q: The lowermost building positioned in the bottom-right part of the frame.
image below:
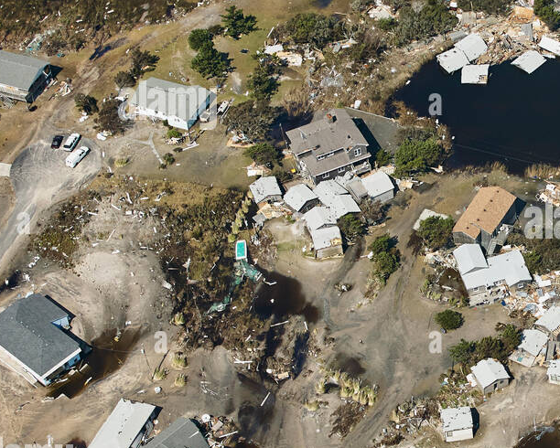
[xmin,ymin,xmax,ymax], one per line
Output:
[443,405,474,441]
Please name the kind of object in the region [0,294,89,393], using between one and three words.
house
